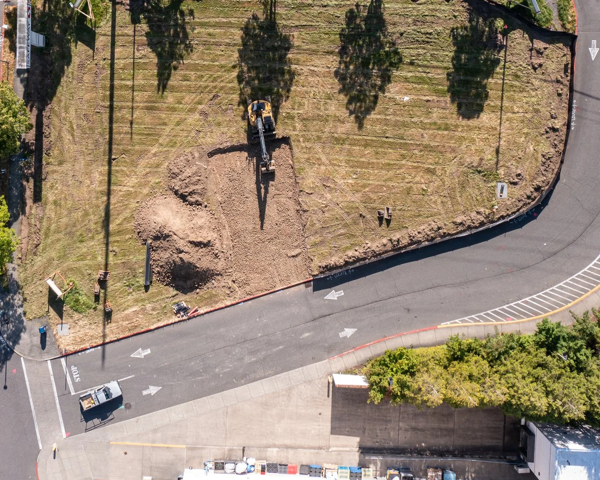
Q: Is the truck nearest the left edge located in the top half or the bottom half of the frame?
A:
bottom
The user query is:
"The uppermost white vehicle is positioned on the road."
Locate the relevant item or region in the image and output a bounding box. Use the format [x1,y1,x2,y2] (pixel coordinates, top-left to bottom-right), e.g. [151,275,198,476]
[75,380,126,419]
